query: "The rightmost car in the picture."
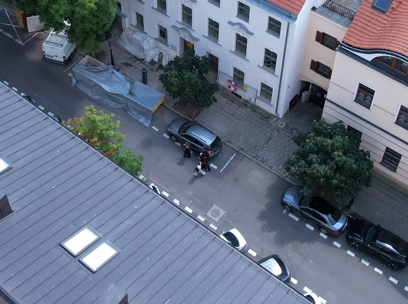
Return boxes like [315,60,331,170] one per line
[345,218,408,275]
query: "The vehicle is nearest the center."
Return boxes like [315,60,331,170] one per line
[168,116,226,159]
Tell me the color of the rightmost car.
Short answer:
black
